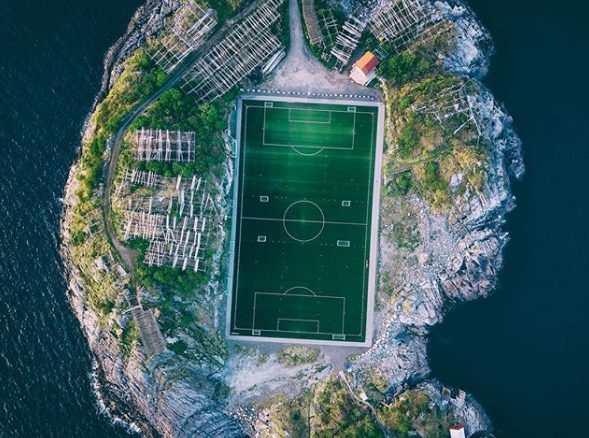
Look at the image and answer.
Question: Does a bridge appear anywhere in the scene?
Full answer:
No, there isn't any bridge down there.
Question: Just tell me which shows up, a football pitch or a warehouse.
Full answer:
The image shows a football pitch.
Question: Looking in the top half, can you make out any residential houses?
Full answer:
Yes, looking in the top half, one can make out a residential house.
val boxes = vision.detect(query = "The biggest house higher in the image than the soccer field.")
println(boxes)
[349,53,378,87]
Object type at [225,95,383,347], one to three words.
soccer field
